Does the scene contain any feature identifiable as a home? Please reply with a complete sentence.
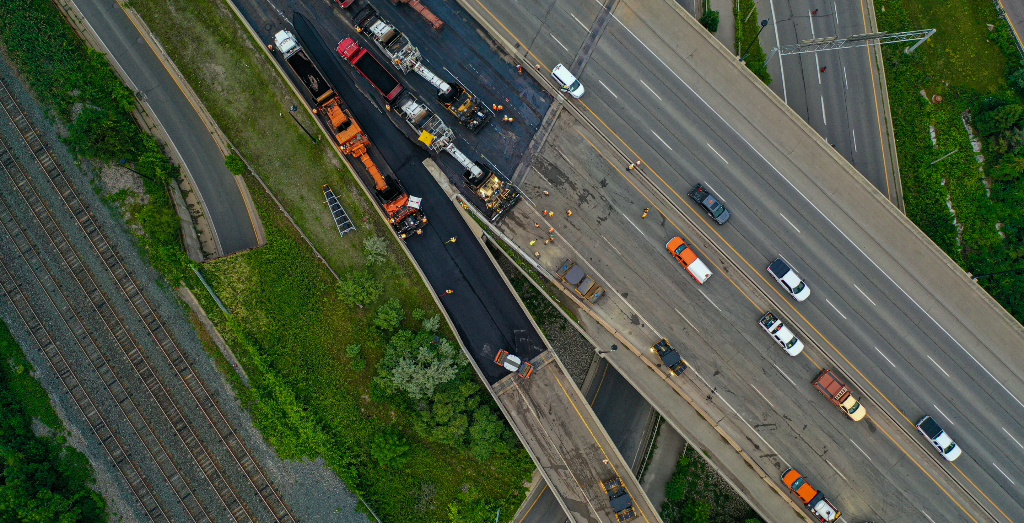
No, there's no home here.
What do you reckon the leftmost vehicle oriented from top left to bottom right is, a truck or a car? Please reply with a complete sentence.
It turns out the leftmost vehicle oriented from top left to bottom right is a truck.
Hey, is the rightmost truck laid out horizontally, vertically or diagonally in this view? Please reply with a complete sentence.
I'd say the rightmost truck is aligned diagonally in the picture.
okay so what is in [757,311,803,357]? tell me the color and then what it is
white truck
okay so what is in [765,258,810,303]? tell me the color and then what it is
white truck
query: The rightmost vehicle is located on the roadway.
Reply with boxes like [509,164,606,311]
[915,415,960,461]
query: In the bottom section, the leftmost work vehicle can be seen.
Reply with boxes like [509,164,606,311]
[493,349,535,379]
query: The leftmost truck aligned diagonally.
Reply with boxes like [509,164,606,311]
[268,26,334,104]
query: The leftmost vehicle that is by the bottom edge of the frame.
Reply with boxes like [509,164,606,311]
[599,476,637,523]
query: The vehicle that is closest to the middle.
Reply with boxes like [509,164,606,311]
[555,258,607,306]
